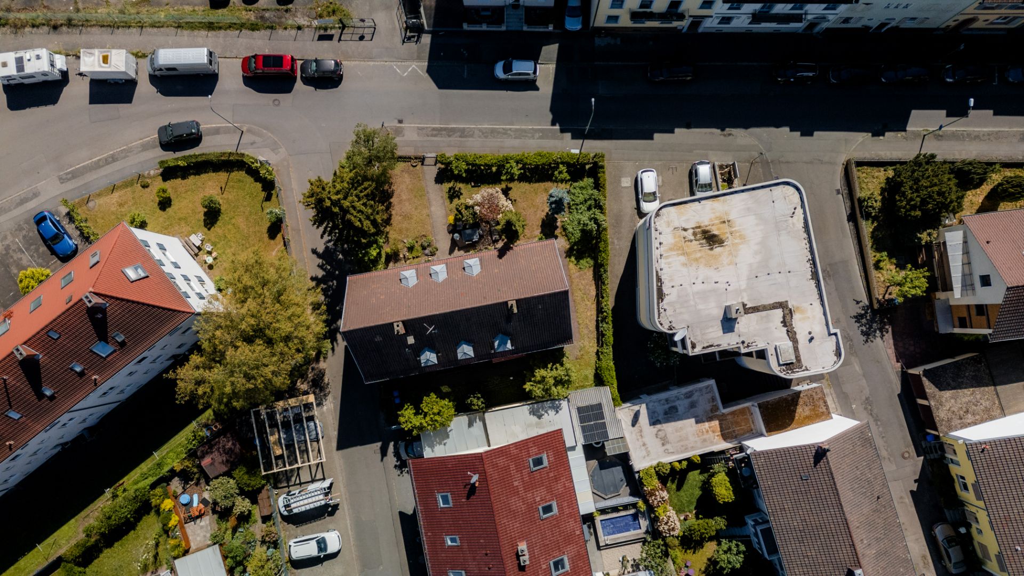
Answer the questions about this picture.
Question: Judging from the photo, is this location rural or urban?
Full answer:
From above, the setting appears urban.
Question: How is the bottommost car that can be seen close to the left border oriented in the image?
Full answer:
The bottommost car that can be seen close to the left border has been laid out on a diagonal relative to the frame.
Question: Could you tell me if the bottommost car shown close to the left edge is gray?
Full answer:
No, from above the bottommost car shown close to the left edge looks blue.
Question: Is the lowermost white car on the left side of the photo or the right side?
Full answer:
The lowermost white car is on the left side of the image.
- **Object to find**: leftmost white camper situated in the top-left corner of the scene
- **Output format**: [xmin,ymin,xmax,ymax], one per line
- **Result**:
[0,49,71,87]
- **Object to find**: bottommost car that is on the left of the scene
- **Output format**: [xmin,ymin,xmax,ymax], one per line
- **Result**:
[286,532,340,561]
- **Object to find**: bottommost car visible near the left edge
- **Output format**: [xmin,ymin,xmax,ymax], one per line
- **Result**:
[29,212,74,259]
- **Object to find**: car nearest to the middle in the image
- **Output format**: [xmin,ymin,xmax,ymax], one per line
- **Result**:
[638,169,663,214]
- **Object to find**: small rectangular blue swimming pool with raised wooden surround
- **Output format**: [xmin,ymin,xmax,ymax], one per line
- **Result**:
[593,506,647,551]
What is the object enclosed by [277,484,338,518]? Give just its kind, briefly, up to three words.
van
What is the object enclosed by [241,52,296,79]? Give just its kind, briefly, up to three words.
vehicle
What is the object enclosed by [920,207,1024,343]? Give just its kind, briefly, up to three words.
house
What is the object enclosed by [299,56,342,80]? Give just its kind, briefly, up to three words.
car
